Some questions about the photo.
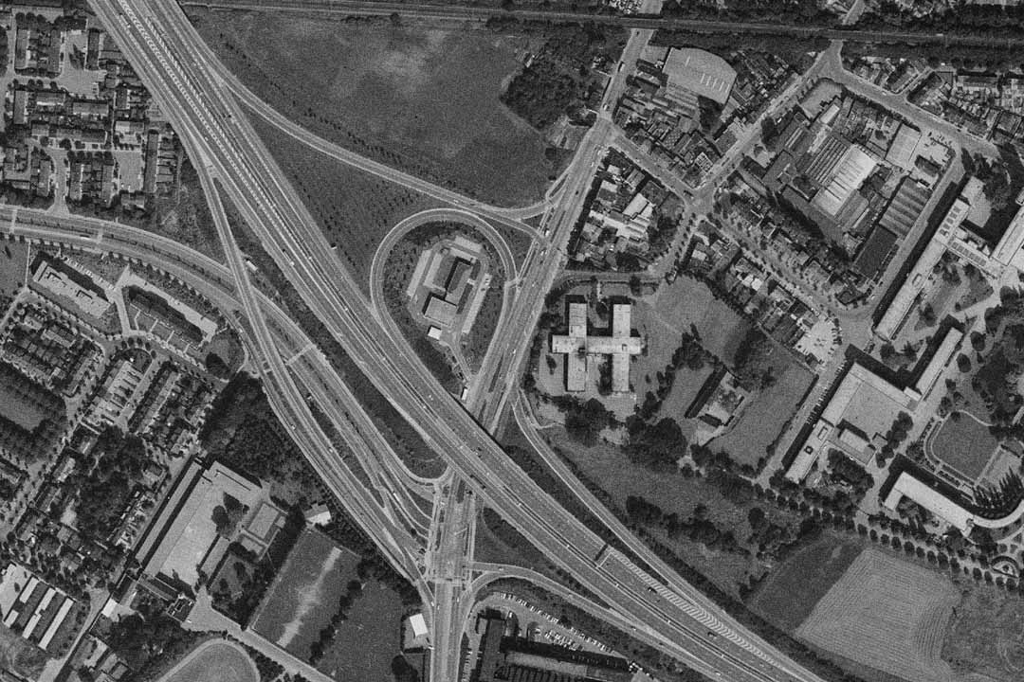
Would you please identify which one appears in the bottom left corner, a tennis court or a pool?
tennis court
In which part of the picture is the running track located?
bottom left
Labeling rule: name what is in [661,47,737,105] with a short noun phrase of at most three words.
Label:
building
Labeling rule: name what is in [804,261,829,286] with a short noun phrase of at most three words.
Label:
house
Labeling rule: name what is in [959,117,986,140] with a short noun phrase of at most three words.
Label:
house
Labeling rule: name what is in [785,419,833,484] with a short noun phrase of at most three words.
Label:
building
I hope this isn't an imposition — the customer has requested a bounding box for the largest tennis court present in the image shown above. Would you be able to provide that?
[245,501,282,543]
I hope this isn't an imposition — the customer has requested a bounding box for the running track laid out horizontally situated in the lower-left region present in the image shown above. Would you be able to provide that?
[163,641,259,682]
